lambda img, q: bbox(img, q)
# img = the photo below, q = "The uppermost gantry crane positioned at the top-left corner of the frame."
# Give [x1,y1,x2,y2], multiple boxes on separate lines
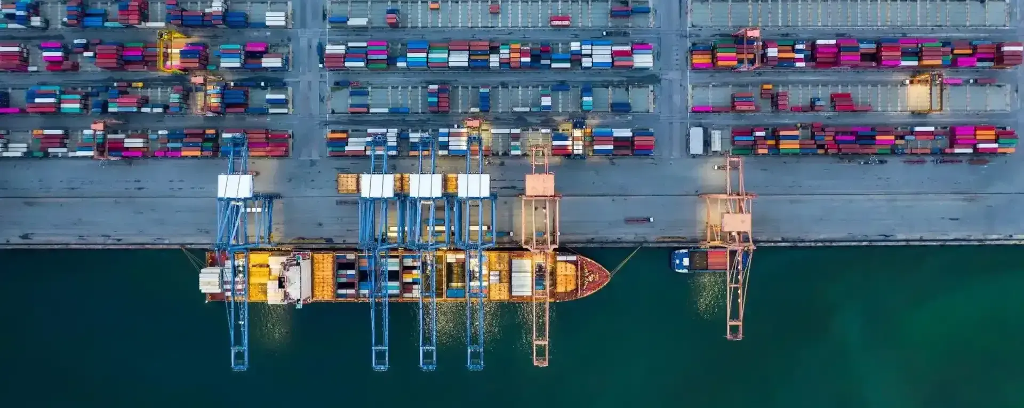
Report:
[158,31,196,76]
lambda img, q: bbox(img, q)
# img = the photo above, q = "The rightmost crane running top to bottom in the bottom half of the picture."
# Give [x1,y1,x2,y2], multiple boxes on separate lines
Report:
[691,152,763,341]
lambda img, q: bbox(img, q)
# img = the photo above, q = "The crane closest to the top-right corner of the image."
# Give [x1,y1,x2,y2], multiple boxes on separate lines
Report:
[910,71,946,114]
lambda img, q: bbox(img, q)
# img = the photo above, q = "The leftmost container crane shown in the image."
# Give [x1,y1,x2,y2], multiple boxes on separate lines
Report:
[91,120,127,160]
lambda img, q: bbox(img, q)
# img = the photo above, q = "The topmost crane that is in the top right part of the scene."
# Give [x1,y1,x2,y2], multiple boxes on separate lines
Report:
[732,27,761,74]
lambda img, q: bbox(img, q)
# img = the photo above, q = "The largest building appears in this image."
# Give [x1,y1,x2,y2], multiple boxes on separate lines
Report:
[687,127,703,155]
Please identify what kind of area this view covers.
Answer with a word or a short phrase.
port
